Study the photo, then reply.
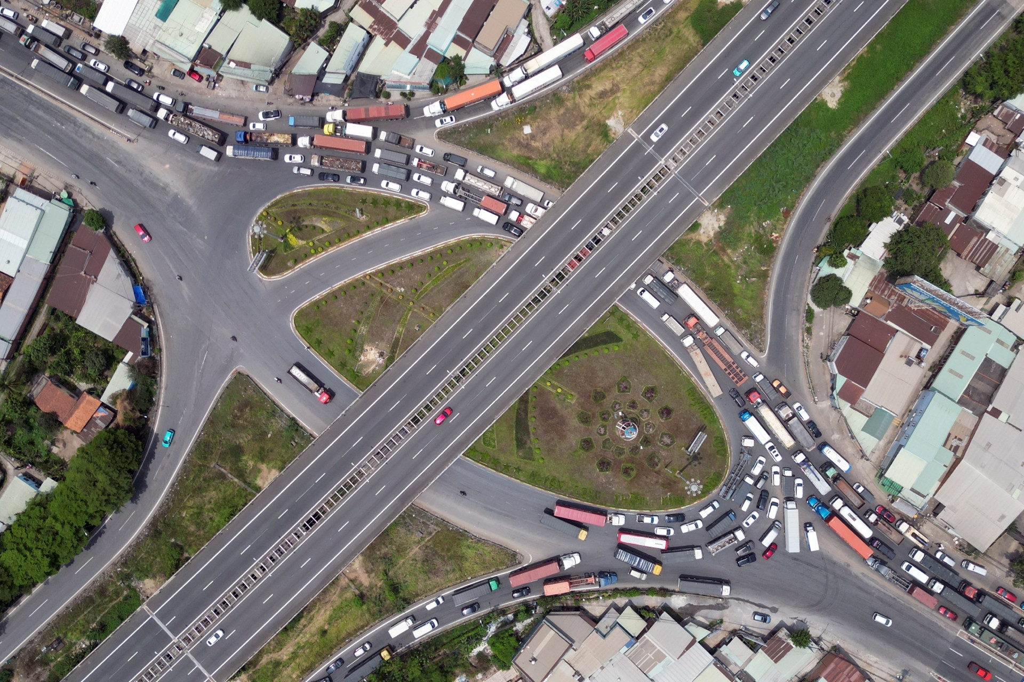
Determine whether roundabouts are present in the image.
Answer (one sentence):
Yes, there's a roundabout down there.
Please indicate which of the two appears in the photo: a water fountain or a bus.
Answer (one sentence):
I can see a bus in this picture.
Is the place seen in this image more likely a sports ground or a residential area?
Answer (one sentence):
What you see here is a residential area.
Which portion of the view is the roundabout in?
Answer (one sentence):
Look in the center portion of the view to spot the roundabout.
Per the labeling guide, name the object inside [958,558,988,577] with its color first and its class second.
white vehicle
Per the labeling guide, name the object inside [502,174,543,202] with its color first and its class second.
white truck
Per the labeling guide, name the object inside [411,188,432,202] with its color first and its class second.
white car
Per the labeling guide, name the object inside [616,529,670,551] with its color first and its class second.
white bus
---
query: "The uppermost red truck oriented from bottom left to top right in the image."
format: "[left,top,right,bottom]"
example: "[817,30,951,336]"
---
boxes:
[581,27,629,64]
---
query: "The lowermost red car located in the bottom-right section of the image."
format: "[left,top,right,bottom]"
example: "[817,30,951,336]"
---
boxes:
[967,661,990,680]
